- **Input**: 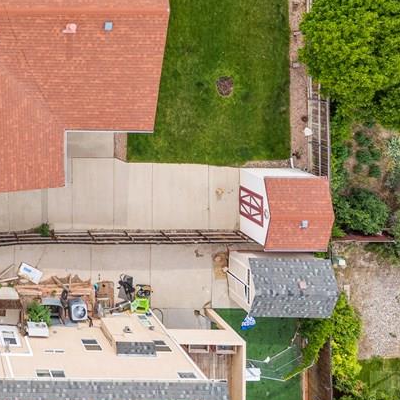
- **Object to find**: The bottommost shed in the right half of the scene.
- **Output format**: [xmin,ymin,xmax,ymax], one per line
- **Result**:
[229,247,340,318]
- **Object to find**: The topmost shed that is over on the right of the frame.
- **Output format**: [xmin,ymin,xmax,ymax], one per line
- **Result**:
[240,171,338,252]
